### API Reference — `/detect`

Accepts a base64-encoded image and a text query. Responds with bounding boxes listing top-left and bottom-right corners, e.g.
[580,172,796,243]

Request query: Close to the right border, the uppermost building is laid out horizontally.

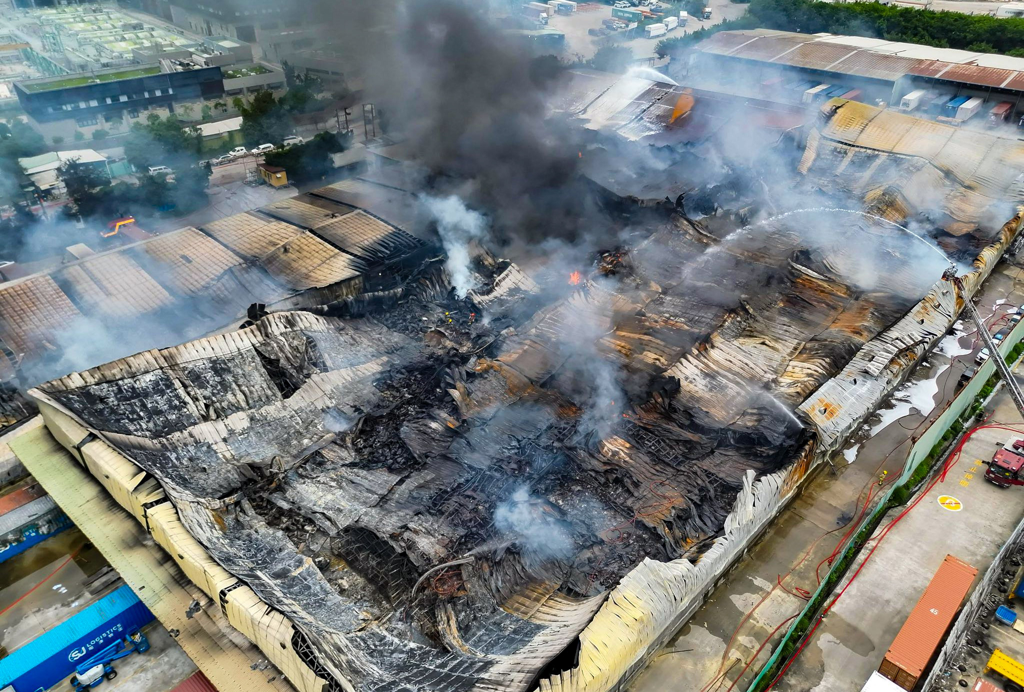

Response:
[684,28,1024,125]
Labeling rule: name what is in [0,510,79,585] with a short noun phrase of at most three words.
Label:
shipping container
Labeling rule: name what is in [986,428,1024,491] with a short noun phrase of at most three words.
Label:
truck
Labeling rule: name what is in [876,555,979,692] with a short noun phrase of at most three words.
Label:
shipping container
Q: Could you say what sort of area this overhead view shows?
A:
industrial area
